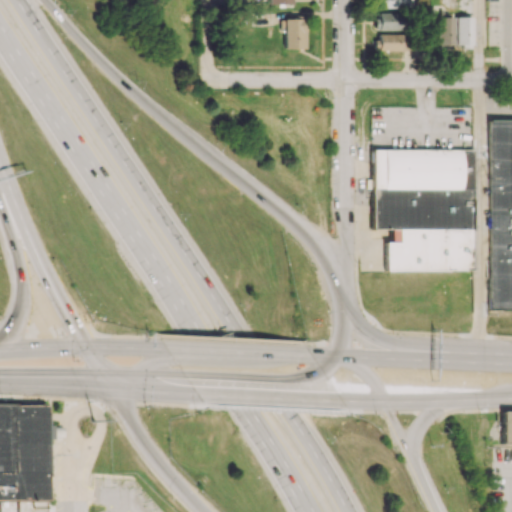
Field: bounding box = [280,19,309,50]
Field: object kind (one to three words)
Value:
house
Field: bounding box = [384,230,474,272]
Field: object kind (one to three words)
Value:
building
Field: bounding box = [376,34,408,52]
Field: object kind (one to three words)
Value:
house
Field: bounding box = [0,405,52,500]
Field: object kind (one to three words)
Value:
building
